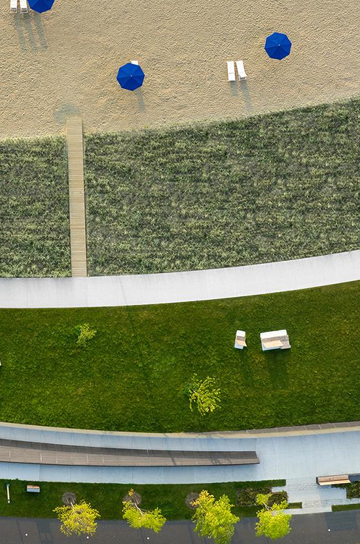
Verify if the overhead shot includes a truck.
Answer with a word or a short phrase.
No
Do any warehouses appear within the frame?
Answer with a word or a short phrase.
No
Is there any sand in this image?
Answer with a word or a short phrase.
Yes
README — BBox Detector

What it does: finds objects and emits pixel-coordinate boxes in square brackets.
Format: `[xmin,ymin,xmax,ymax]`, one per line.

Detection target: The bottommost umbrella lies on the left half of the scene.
[117,63,144,91]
